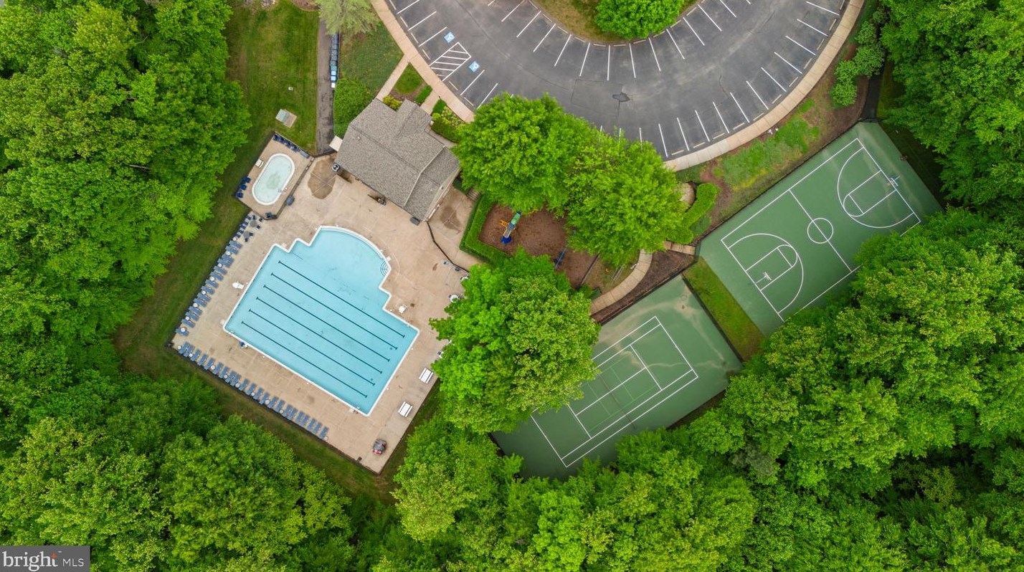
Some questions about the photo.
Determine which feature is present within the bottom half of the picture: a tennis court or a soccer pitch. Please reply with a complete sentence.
The one visible within the bottom half of the picture is a tennis court.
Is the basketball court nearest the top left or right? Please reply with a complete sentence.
The basketball court nearest the top appears in the right half of the scene.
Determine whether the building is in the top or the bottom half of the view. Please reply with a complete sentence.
The building is in the top half of the image.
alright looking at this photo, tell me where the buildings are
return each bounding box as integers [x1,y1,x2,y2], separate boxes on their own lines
[329,99,461,221]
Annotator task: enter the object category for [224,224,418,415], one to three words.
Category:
swimming pool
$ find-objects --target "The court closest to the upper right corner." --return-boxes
[697,119,945,351]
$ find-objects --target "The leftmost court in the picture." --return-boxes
[483,279,751,502]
